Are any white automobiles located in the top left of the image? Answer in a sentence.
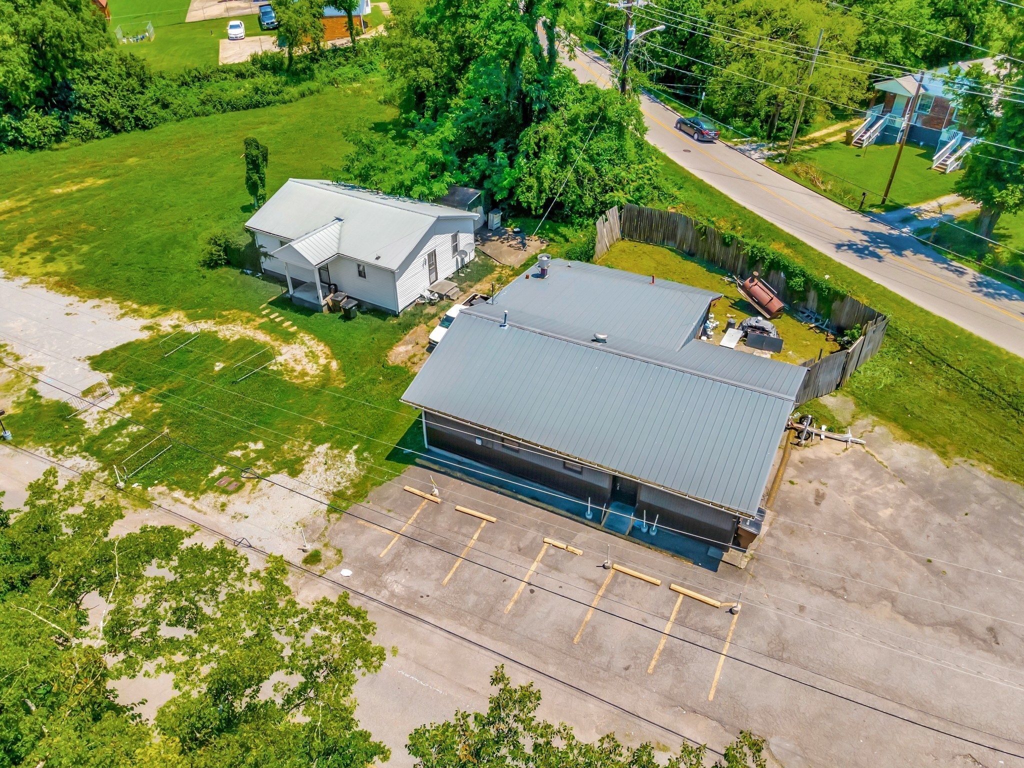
Yes, you'll find a white automobile in the top left of the image.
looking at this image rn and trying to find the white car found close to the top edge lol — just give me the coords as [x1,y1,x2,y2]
[227,23,245,40]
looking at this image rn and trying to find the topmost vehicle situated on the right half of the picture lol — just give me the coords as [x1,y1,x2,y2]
[678,121,719,144]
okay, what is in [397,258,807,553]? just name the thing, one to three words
building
